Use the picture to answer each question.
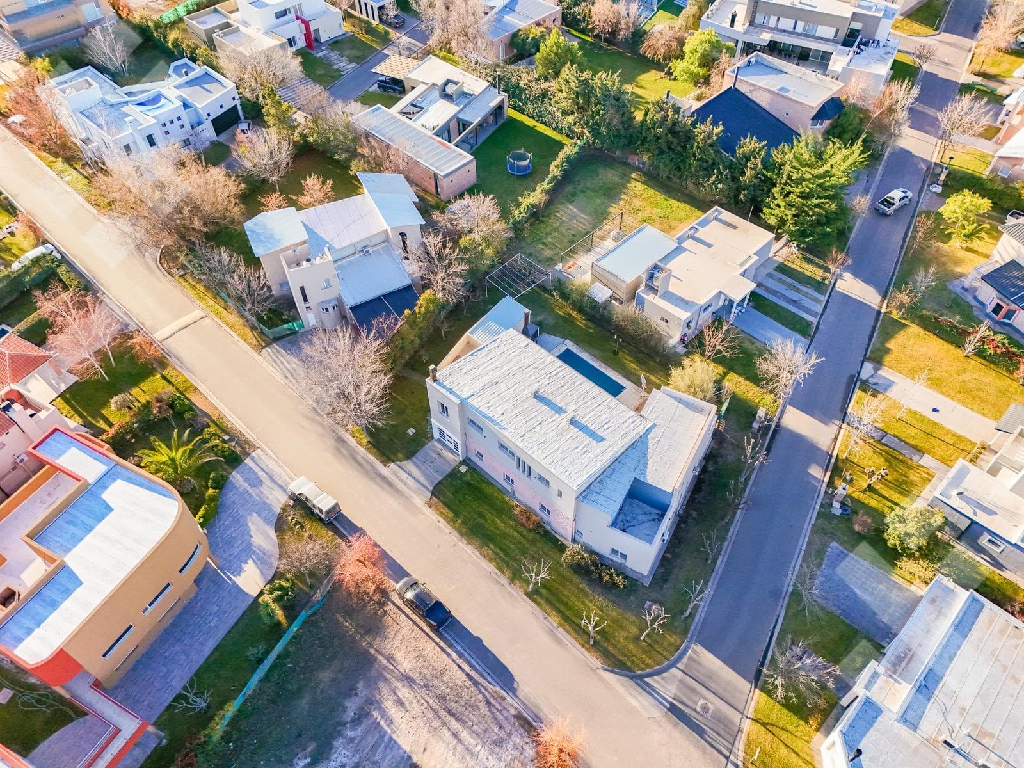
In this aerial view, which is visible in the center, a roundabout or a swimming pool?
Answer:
swimming pool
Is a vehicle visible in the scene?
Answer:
Yes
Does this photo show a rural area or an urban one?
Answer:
urban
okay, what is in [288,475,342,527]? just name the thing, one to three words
truck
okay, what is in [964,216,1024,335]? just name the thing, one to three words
house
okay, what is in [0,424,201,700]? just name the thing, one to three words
house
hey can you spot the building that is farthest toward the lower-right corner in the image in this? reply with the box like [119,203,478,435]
[816,574,1024,768]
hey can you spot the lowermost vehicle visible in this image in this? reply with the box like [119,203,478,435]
[391,573,455,636]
